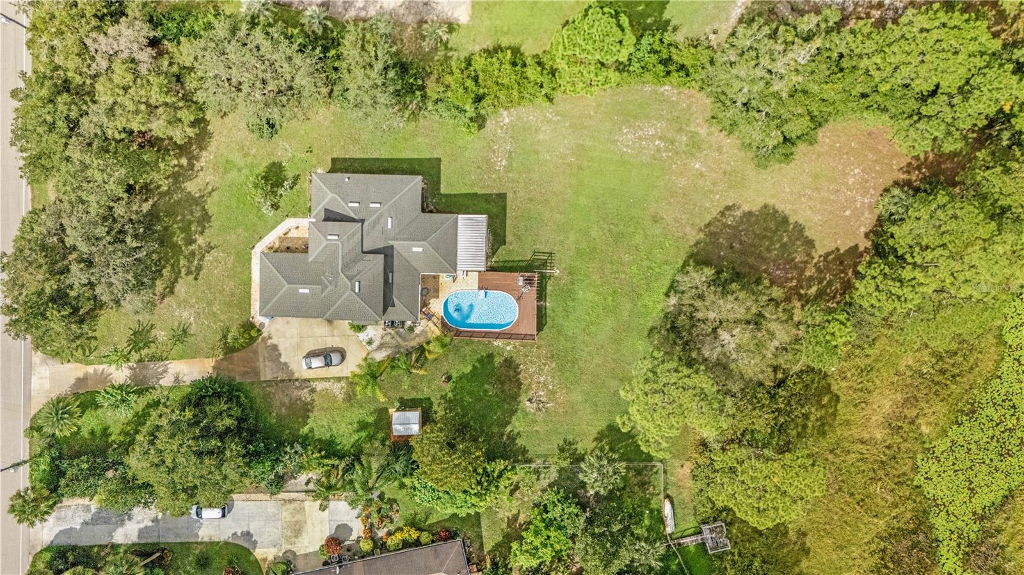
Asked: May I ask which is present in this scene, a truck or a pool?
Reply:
pool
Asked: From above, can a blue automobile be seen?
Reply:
No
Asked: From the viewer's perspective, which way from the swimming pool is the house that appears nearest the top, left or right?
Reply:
on its left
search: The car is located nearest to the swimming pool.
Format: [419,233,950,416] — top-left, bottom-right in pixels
[302,351,344,369]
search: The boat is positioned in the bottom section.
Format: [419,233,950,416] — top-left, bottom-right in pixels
[665,499,678,534]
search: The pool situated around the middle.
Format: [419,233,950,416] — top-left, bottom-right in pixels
[442,290,519,330]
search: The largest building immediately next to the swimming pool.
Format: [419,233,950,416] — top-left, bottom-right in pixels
[258,172,458,324]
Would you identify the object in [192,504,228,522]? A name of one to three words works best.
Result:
car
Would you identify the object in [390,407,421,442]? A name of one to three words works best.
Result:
shed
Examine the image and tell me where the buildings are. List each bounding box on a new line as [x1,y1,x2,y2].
[290,539,470,575]
[390,407,421,442]
[258,172,458,324]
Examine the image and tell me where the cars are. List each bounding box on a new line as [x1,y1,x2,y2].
[192,504,228,522]
[302,351,344,369]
